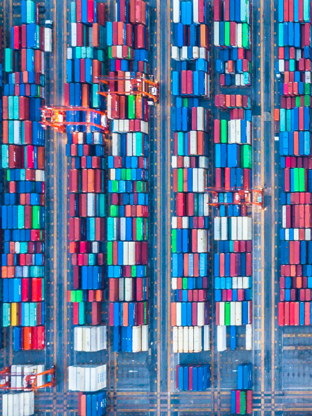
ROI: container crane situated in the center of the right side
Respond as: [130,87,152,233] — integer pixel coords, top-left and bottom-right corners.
[204,185,262,210]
